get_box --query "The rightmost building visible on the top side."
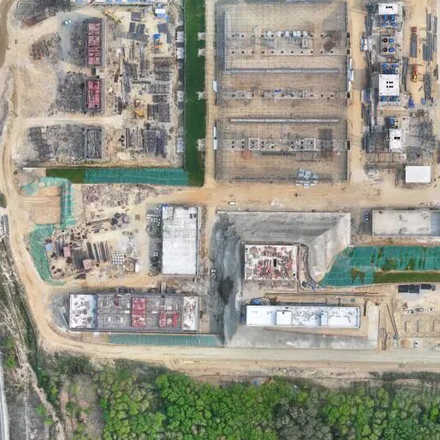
[406,166,431,182]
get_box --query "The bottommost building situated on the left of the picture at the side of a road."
[70,294,199,329]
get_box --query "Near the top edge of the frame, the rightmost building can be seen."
[370,1,404,114]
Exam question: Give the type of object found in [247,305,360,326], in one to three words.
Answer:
building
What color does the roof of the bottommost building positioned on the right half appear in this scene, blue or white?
white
